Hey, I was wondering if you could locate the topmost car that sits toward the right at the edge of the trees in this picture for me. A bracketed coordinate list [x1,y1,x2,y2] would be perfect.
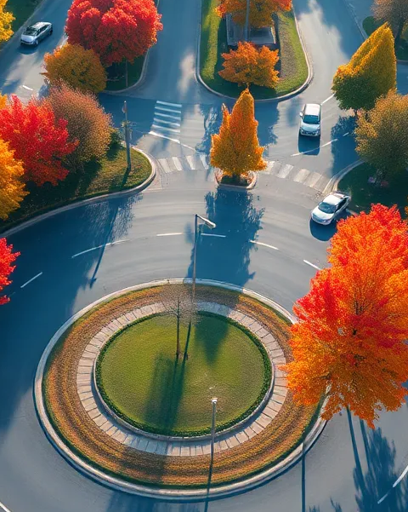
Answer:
[298,101,323,136]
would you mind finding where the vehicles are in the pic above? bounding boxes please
[20,22,51,47]
[307,192,355,229]
[298,101,323,136]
